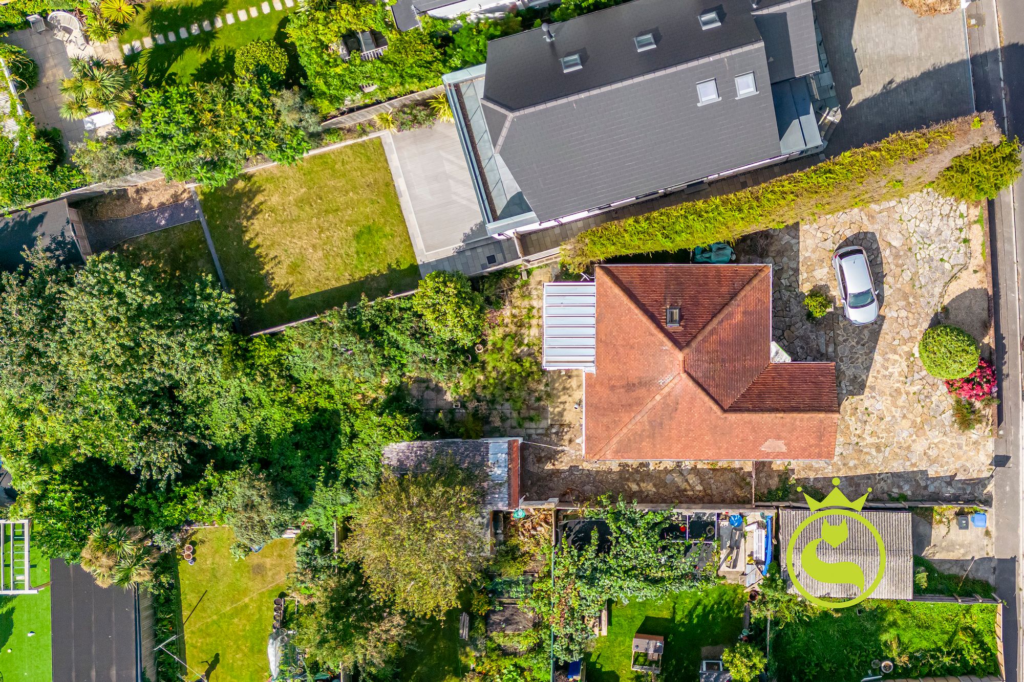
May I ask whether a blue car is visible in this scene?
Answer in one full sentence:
No, I can see no blue car in this picture.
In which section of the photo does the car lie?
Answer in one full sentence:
The car is located in the right region of the scene.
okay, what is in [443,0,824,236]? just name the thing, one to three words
house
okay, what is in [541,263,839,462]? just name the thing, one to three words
house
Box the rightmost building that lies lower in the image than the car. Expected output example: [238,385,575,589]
[780,506,914,599]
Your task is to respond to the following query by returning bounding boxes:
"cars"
[834,245,881,327]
